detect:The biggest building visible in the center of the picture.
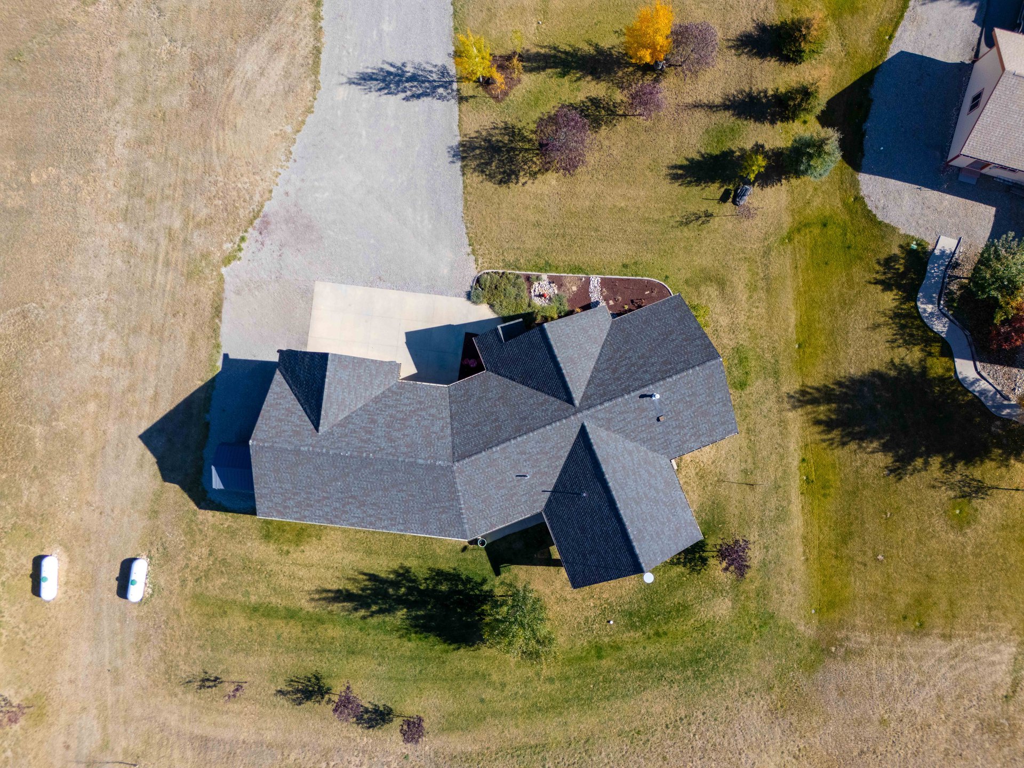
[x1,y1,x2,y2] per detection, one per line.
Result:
[250,291,737,590]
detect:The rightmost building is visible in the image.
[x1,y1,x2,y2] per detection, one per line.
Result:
[945,28,1024,194]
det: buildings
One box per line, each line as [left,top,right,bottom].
[250,291,737,590]
[945,28,1024,194]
